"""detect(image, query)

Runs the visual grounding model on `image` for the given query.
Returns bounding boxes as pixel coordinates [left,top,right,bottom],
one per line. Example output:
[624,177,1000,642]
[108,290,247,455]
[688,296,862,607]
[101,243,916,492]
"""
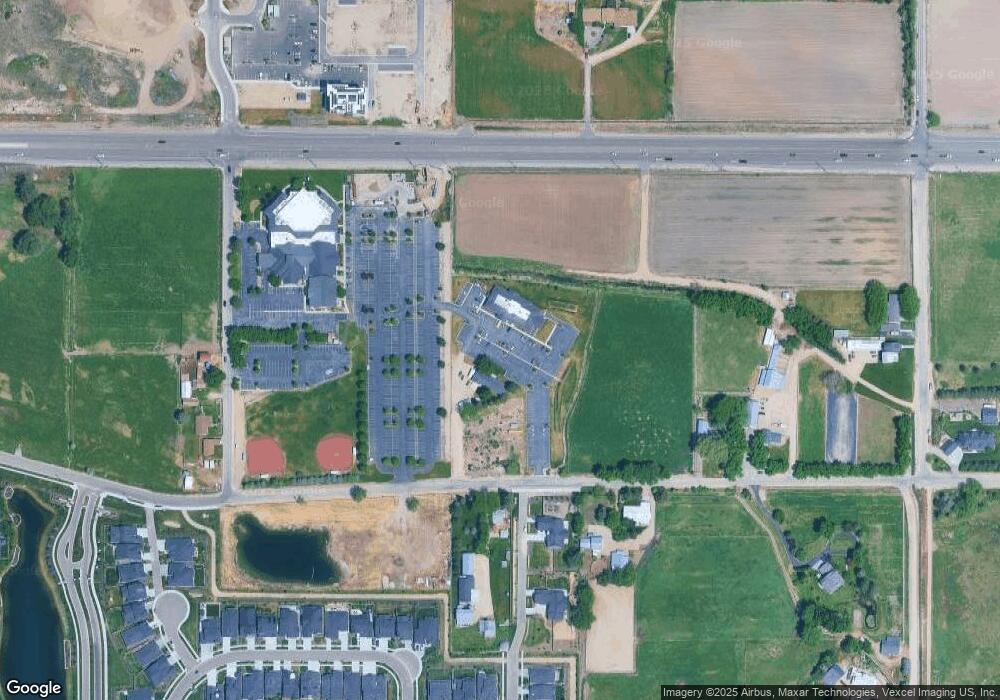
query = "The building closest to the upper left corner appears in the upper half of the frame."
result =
[326,83,364,114]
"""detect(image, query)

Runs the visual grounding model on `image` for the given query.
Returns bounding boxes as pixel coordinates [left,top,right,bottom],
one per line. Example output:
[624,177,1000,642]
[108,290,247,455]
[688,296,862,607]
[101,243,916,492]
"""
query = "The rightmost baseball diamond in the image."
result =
[315,433,354,474]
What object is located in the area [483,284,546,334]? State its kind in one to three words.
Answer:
building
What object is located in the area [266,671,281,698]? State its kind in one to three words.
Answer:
house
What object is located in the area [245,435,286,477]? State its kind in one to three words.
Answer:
baseball field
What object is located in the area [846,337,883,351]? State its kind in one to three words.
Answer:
barn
